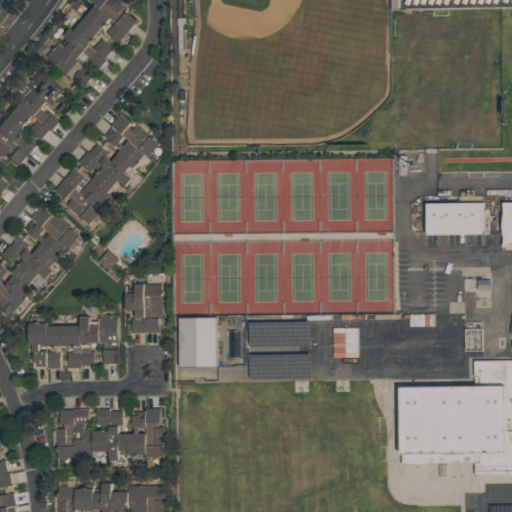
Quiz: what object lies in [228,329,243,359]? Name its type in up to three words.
greenhouse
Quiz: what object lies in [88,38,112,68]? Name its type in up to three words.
building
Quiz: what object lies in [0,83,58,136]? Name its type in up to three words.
house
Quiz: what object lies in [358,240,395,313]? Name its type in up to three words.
tennis court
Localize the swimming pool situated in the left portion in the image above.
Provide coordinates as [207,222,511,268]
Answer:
[108,218,150,268]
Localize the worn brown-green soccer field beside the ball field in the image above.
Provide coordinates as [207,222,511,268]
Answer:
[392,9,504,150]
